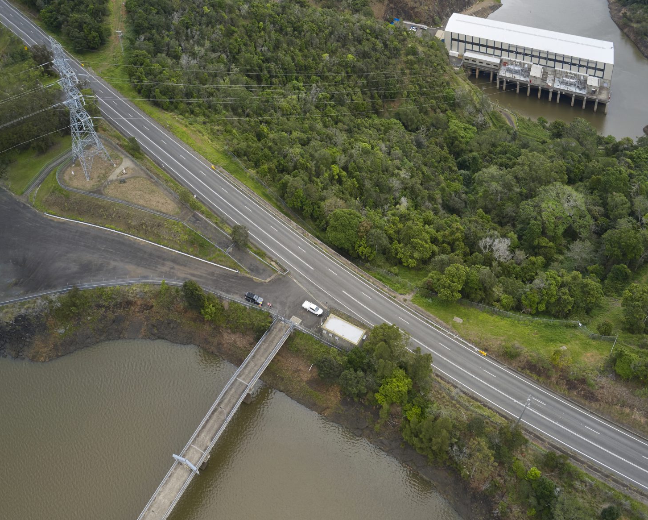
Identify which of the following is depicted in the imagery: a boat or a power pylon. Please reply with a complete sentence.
Visible in the photo is a power pylon.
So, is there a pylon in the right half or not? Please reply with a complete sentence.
No, there is no pylon in the right half.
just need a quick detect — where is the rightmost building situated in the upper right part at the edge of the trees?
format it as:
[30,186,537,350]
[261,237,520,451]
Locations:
[447,13,618,115]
